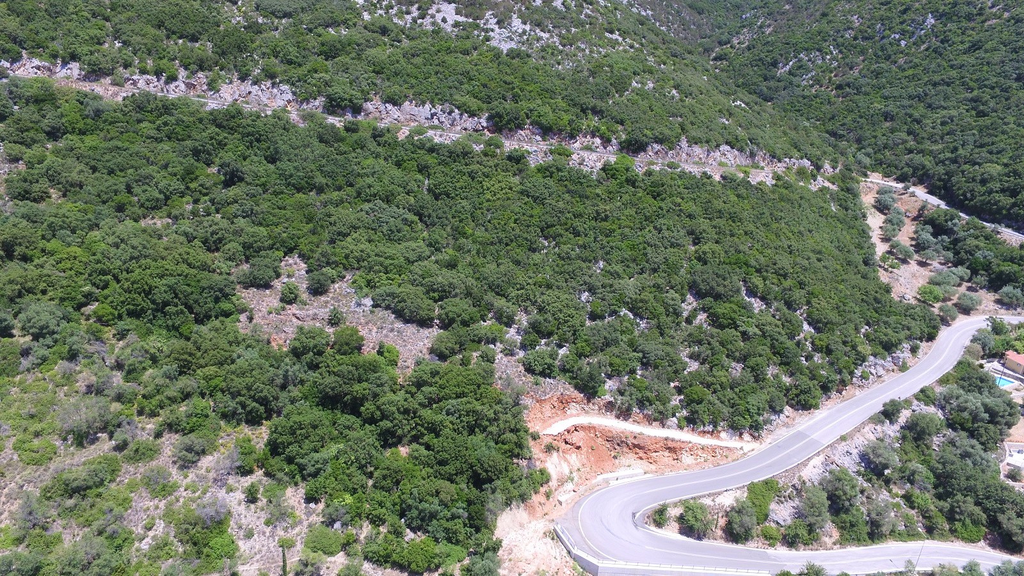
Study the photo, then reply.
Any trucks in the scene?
No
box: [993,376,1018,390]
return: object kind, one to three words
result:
swimming pool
